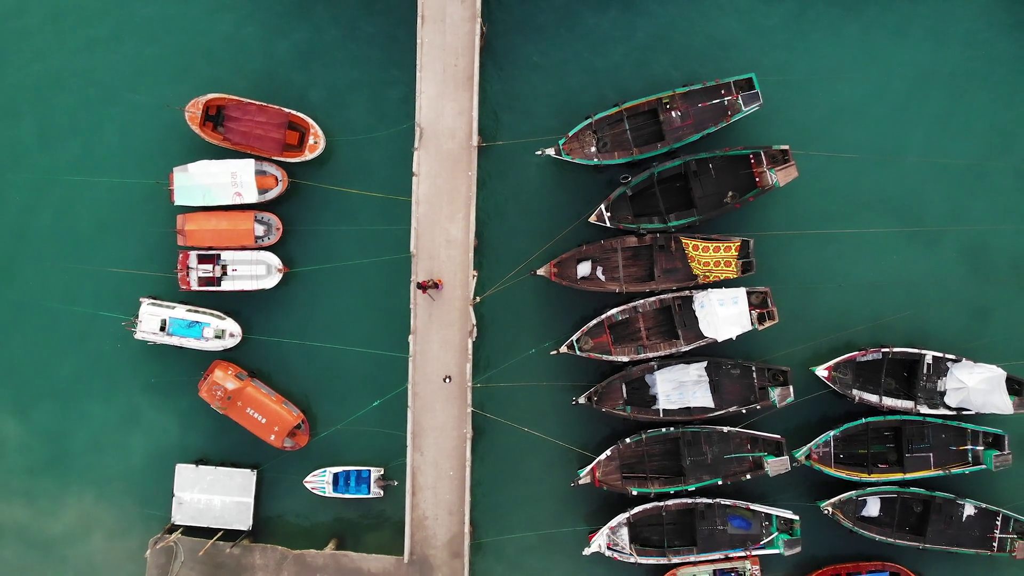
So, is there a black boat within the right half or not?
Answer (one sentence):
Yes, looking within the right half, one can make out a black boat.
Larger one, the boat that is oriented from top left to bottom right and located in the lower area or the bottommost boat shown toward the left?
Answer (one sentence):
Of the two, the boat that is oriented from top left to bottom right and located in the lower area is larger and the bottommost boat shown toward the left is the smaller one.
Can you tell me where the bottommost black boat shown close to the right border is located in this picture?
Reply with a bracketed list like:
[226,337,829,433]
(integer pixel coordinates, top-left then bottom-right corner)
[810,480,1024,558]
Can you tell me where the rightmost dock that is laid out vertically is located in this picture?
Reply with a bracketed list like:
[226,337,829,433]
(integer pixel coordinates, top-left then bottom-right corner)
[404,0,485,576]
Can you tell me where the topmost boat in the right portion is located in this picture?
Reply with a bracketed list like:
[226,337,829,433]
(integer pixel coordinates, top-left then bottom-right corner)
[536,73,762,171]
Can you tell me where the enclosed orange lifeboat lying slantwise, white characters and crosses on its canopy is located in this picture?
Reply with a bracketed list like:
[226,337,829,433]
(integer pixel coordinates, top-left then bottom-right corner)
[197,359,312,450]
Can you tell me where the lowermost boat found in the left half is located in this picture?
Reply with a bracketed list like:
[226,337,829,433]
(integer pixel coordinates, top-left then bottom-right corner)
[303,465,398,498]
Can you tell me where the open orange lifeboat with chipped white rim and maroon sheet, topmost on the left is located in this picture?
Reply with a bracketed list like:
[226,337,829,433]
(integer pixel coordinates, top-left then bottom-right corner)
[176,93,328,164]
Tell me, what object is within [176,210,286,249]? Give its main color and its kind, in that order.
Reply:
orange boat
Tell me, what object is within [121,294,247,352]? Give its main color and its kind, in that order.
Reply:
white boat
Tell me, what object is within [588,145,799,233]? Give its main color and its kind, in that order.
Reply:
black boat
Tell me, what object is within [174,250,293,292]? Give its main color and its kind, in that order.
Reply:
white boat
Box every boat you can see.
[174,250,293,292]
[572,356,794,424]
[176,93,328,164]
[168,159,291,207]
[550,287,779,365]
[536,73,762,171]
[806,343,1024,415]
[810,480,1024,558]
[588,145,799,233]
[582,490,801,566]
[303,465,398,498]
[531,231,756,293]
[197,359,312,450]
[786,414,1012,483]
[799,558,912,576]
[659,556,761,576]
[571,423,791,496]
[121,294,247,352]
[176,210,286,249]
